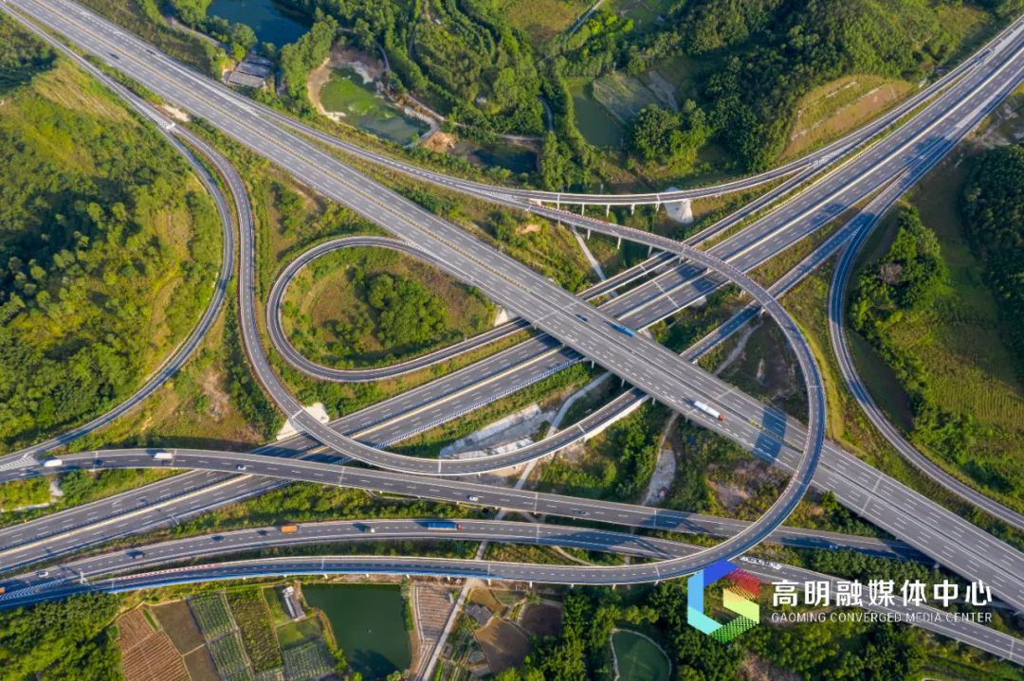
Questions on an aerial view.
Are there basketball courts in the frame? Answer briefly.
No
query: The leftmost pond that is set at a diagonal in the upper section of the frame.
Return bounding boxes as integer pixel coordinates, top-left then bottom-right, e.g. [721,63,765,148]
[319,68,425,144]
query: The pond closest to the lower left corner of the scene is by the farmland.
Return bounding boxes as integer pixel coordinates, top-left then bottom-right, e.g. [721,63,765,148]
[303,584,409,681]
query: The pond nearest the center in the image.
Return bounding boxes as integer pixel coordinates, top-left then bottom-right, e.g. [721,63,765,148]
[456,140,538,173]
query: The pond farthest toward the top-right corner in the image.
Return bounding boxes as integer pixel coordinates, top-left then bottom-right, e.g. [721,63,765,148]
[571,84,625,146]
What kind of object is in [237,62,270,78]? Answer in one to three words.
shed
